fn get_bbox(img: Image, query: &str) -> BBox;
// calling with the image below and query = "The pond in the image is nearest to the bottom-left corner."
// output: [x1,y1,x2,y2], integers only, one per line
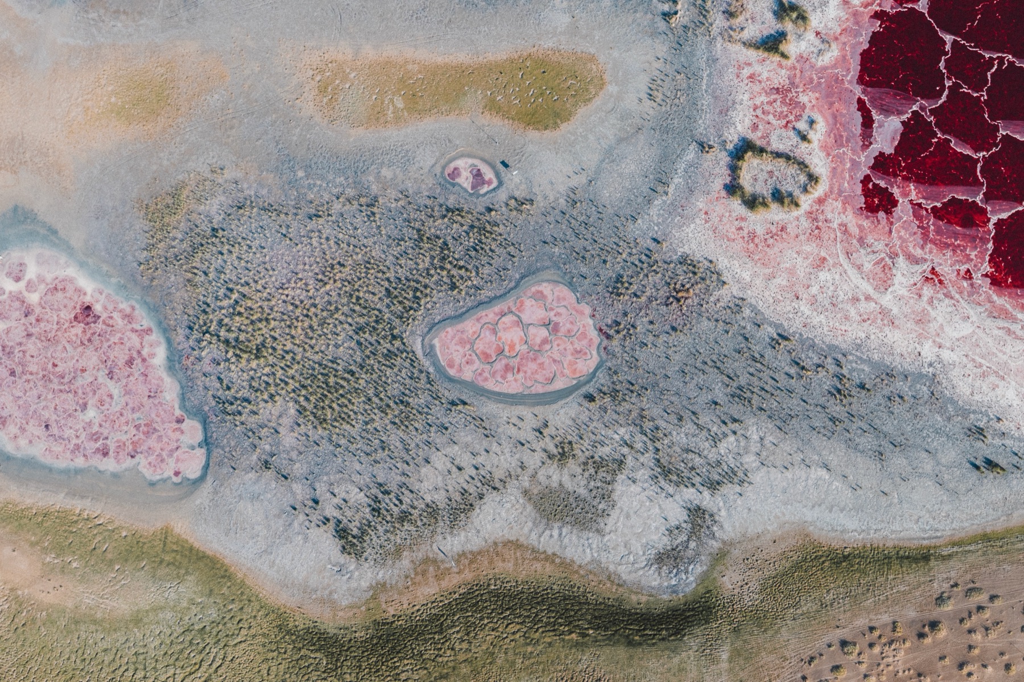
[0,249,205,482]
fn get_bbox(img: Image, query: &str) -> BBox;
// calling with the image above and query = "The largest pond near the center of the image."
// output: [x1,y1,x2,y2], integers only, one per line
[426,275,603,404]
